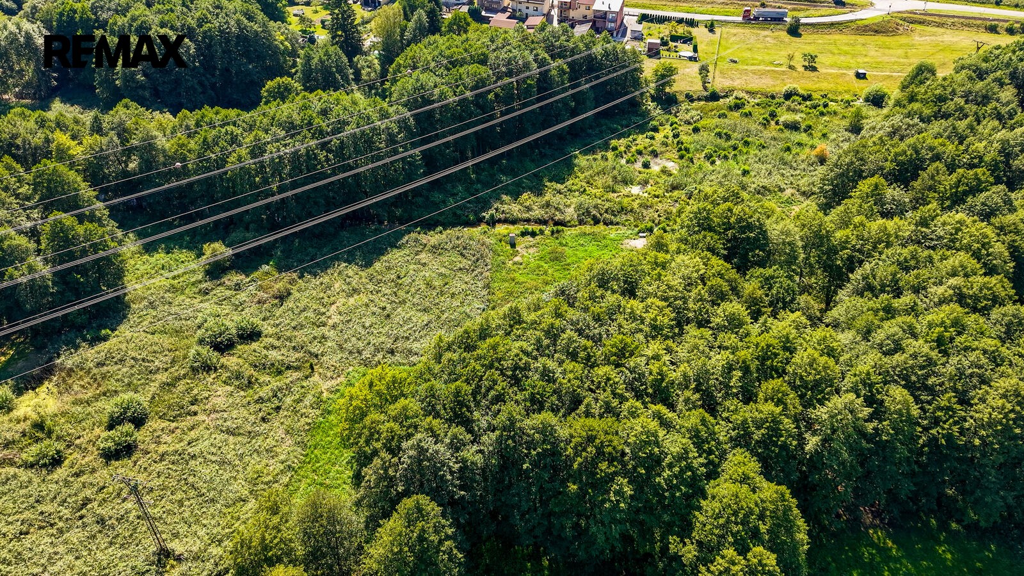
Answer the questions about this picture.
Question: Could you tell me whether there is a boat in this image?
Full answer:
No, I can see no boat in this picture.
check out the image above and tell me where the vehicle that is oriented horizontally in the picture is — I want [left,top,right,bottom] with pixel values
[742,9,790,22]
